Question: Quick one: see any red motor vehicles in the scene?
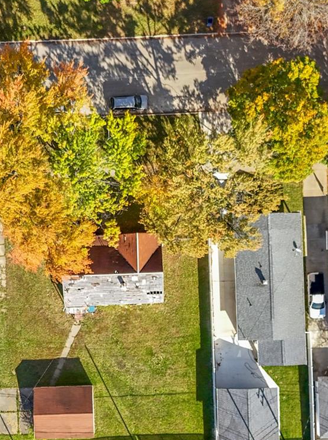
No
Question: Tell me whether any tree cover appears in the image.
Yes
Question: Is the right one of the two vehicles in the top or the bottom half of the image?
bottom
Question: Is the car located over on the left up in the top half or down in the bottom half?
top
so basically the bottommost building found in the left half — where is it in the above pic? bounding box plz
[33,385,95,439]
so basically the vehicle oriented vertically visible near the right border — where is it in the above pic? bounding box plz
[308,272,328,320]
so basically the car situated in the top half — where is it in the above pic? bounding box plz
[109,92,147,112]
